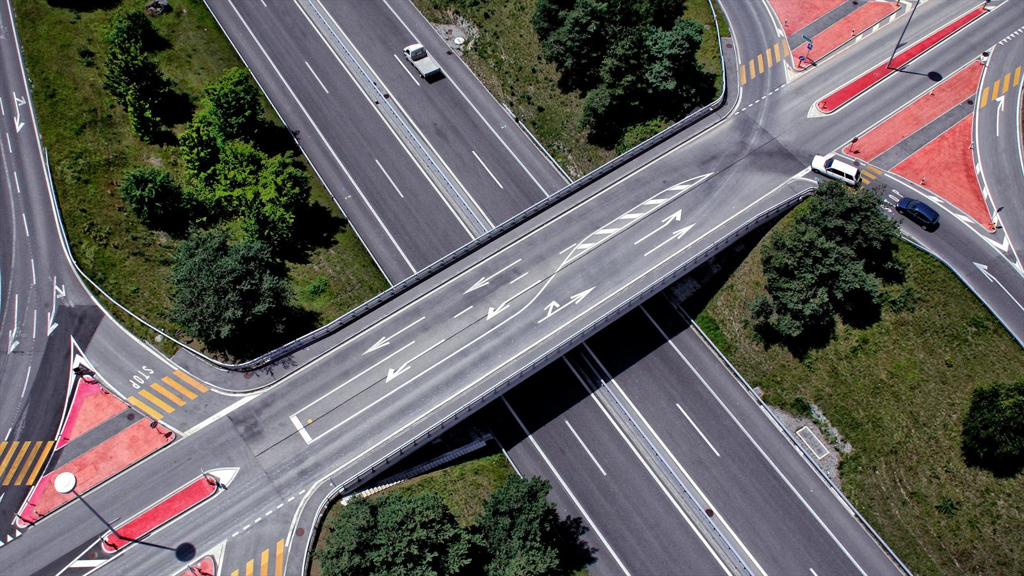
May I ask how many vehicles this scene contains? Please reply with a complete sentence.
My tally gives 3 vehicles in this view.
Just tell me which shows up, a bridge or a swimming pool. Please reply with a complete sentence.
The one in the frame is a bridge.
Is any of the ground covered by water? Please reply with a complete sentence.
No, water can't be seen anywhere here.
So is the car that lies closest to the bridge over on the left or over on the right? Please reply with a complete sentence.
The car that lies closest to the bridge is on the right side of the image.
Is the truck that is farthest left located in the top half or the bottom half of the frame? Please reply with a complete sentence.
The truck that is farthest left is in the top half of the image.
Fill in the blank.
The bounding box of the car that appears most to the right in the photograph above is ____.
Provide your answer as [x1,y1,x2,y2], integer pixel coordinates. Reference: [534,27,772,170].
[893,198,941,233]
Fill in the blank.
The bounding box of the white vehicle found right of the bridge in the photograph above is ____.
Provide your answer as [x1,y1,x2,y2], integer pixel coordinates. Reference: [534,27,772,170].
[810,155,861,189]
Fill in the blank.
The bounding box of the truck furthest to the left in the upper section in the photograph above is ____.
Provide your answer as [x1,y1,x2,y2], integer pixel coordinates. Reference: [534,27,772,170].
[405,46,441,81]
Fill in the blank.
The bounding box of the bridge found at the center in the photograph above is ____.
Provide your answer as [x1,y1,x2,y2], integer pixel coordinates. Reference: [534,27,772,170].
[271,106,807,492]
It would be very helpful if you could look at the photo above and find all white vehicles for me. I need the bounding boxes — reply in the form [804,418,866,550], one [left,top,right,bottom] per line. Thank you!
[810,155,861,189]
[405,46,441,81]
